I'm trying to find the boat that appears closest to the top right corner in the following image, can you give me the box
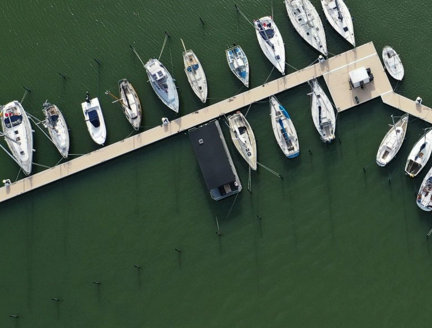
[384,45,403,83]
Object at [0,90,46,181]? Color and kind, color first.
white boat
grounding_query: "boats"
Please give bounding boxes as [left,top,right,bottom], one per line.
[417,170,432,212]
[377,112,418,167]
[224,106,281,190]
[384,45,403,83]
[180,37,213,108]
[283,0,331,63]
[25,97,86,160]
[319,0,357,51]
[0,90,46,181]
[261,89,300,160]
[132,33,180,117]
[235,6,295,84]
[184,116,243,234]
[225,44,252,98]
[104,78,152,132]
[81,96,109,149]
[309,80,337,145]
[407,128,432,178]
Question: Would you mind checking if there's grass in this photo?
No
